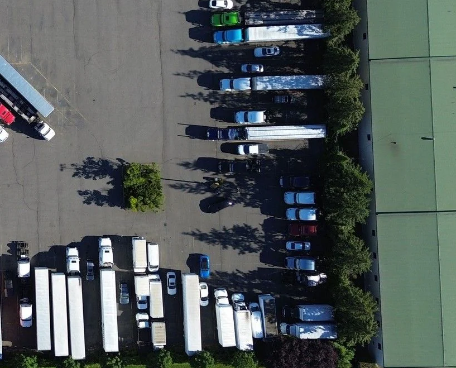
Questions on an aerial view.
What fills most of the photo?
paved ground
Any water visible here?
No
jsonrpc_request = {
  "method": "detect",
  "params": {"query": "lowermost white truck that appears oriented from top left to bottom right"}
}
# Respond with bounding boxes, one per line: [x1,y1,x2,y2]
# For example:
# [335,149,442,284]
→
[21,111,54,143]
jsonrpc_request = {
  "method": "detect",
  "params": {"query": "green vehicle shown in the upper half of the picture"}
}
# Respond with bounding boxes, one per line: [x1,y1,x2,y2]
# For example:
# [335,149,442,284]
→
[209,10,251,27]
